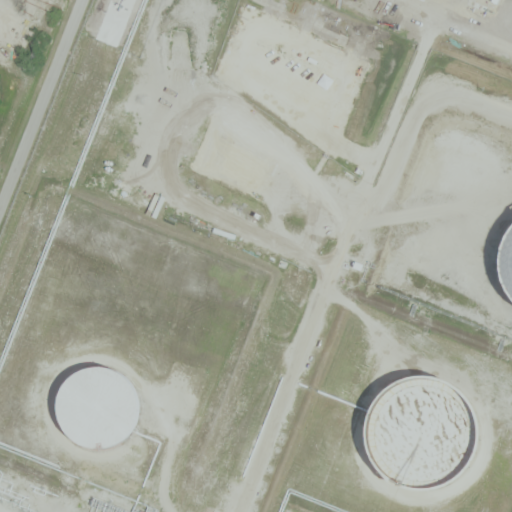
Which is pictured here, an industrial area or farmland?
industrial area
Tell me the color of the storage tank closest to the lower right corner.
white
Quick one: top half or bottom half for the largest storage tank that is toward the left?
bottom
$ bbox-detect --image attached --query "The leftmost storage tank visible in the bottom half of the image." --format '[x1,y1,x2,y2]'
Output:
[53,365,142,453]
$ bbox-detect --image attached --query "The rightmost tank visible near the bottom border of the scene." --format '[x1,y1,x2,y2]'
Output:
[362,374,478,492]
